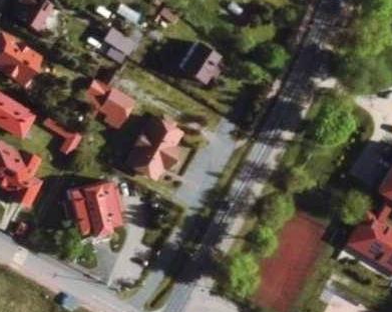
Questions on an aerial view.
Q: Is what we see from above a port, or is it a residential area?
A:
residential area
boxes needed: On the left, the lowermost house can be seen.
[58,182,124,247]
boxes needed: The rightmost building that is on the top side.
[181,44,223,84]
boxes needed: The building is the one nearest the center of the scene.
[132,112,184,180]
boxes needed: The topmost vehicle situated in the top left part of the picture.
[97,6,111,19]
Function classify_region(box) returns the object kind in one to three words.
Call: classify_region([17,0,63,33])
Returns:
house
